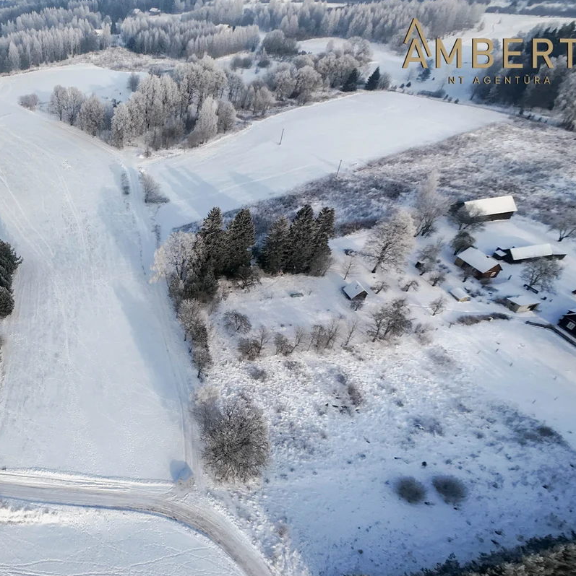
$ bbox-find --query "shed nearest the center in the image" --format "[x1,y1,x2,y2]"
[340,285,372,308]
